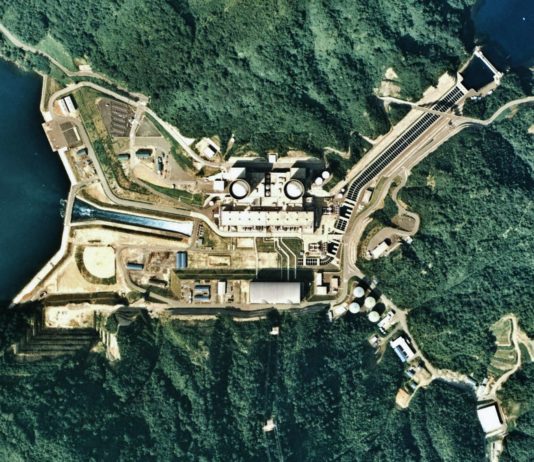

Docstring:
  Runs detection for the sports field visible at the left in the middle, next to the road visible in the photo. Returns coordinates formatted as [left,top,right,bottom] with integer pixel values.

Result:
[76,247,116,285]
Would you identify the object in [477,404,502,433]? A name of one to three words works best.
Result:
building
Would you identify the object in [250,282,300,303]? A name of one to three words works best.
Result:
building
